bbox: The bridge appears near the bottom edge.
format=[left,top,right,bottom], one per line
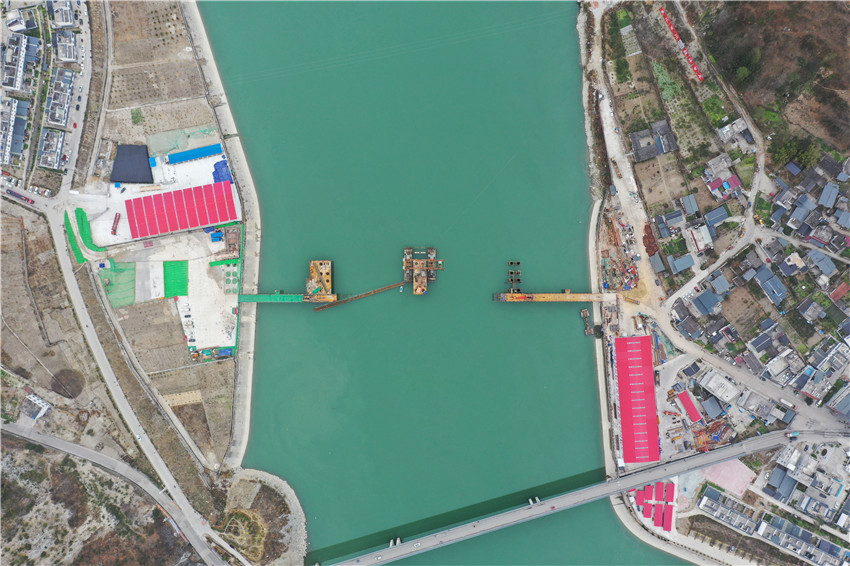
[314,427,815,566]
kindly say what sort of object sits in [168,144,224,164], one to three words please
building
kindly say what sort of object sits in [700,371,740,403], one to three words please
house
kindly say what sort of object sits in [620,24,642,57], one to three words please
greenhouse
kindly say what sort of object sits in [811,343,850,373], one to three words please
house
